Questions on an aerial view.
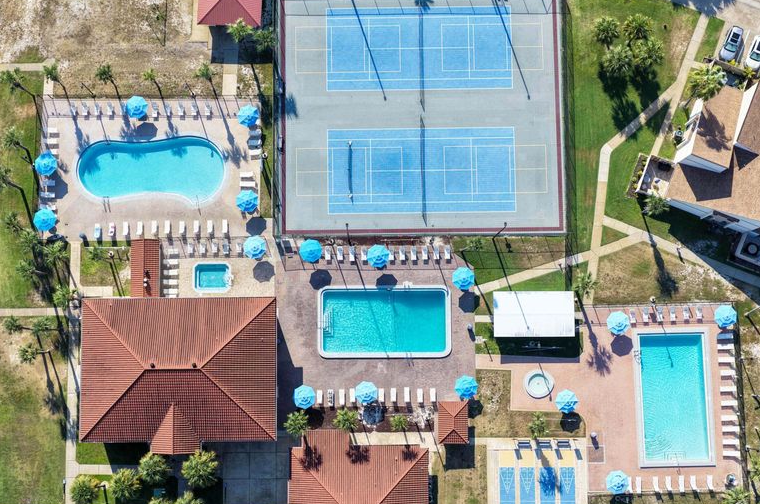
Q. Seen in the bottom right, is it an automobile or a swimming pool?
swimming pool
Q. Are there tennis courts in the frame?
Yes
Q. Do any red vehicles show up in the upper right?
No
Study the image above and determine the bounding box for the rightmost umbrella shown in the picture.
[713,305,736,327]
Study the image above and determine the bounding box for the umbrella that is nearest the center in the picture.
[367,246,390,269]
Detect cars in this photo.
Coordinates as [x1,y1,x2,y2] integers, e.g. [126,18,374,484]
[720,23,745,61]
[745,33,760,71]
